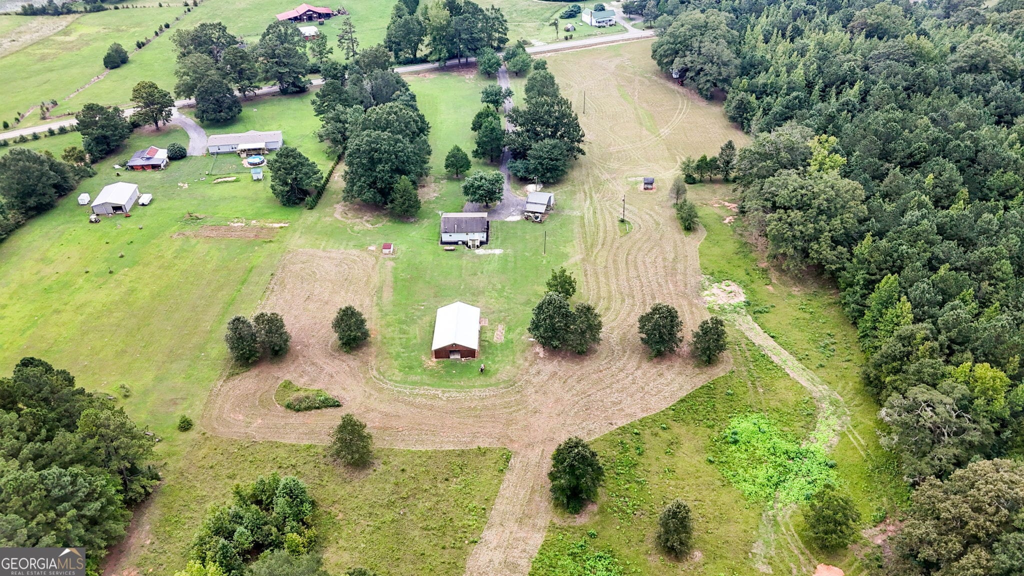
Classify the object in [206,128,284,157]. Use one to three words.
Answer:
house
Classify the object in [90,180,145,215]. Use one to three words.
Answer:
building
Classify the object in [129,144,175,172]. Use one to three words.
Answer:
barn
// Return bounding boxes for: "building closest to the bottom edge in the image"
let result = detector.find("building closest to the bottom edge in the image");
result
[432,301,480,360]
